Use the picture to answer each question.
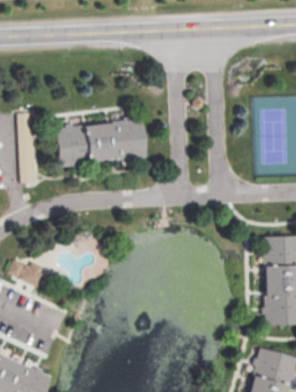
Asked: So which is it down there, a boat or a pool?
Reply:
pool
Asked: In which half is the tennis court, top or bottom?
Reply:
top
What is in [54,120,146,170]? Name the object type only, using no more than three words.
building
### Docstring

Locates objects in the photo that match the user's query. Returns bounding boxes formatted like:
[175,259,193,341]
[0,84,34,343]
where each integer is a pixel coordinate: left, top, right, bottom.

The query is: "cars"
[265,21,277,26]
[186,23,198,28]
[18,295,26,307]
[0,322,6,333]
[6,288,14,300]
[32,302,40,314]
[5,326,13,337]
[34,339,42,350]
[26,334,34,346]
[25,299,34,311]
